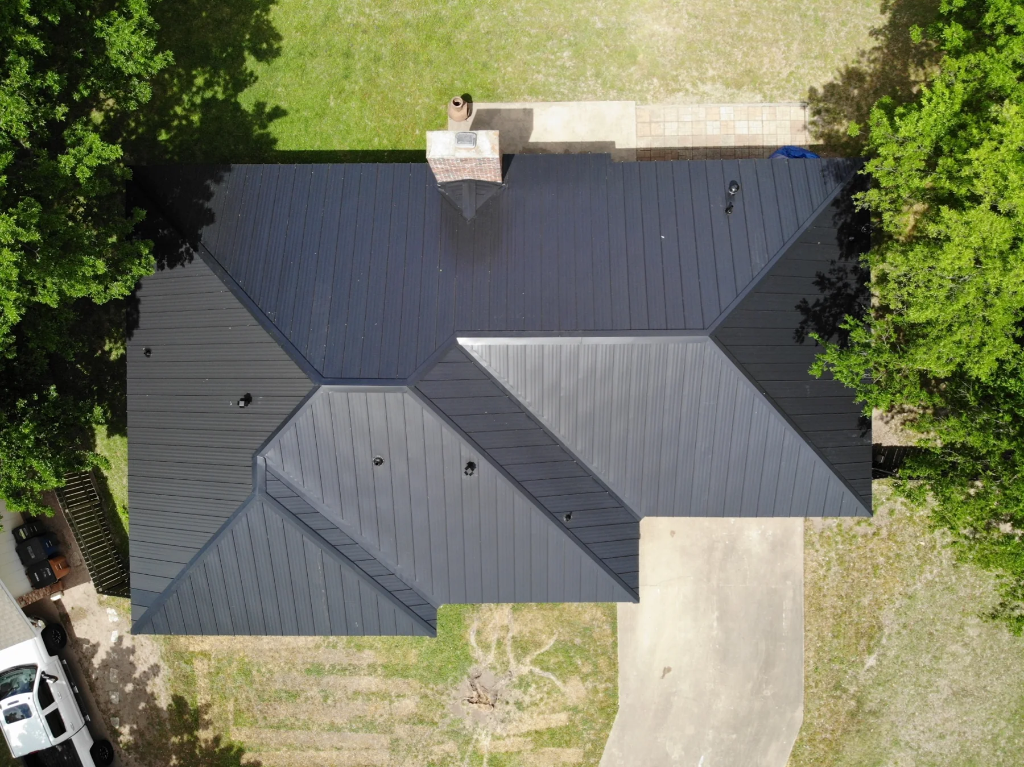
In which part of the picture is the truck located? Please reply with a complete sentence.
The truck appears toward the bottom left of the photo.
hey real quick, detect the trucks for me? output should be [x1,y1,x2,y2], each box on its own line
[0,607,112,767]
